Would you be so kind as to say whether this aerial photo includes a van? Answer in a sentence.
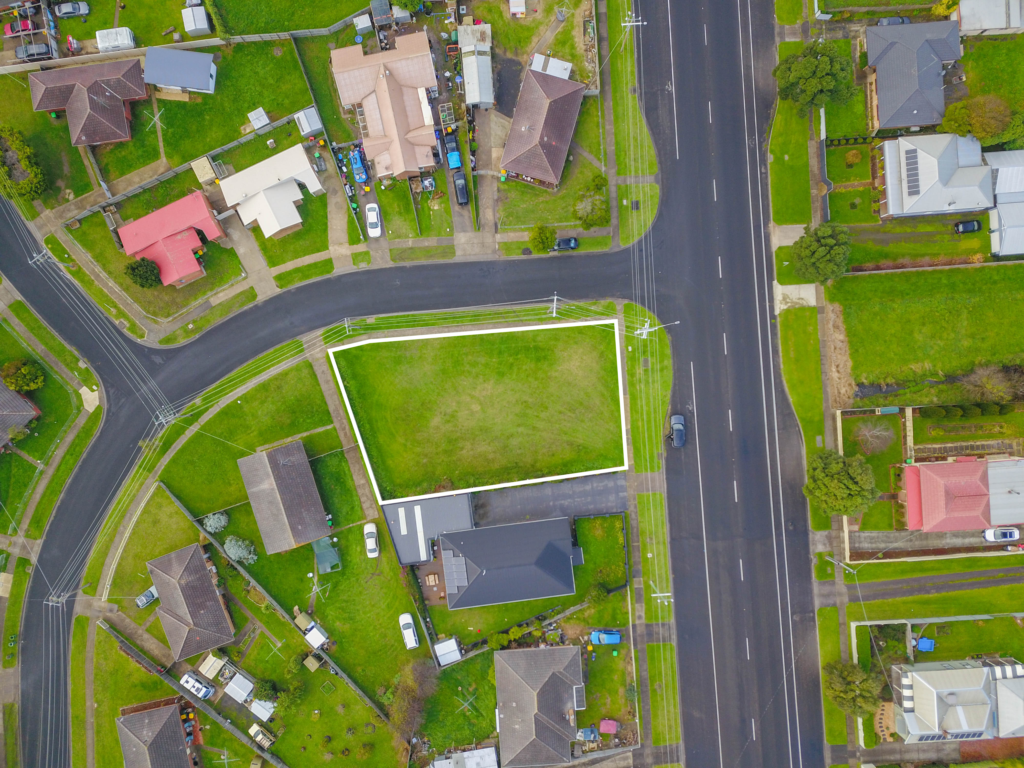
Yes, a van is visible in the scene.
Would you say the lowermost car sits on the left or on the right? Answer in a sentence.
The lowermost car sits on the left side.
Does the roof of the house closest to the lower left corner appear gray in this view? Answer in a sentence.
Yes, the roof of the house closest to the lower left corner is indeed gray.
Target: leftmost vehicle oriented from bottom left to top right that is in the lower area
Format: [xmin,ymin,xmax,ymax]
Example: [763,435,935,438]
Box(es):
[133,585,157,609]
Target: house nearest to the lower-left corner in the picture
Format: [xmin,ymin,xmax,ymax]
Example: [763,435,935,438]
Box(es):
[115,701,196,768]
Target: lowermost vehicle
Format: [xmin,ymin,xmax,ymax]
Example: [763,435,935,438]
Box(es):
[249,721,279,750]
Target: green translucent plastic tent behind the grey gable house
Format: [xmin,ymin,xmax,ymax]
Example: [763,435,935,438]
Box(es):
[311,533,344,574]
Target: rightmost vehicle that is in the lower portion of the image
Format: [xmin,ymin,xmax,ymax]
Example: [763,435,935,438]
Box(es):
[981,526,1020,542]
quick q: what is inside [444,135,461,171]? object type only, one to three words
vehicle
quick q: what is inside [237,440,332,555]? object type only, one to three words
house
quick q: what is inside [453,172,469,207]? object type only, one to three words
car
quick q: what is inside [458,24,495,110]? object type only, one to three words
shed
